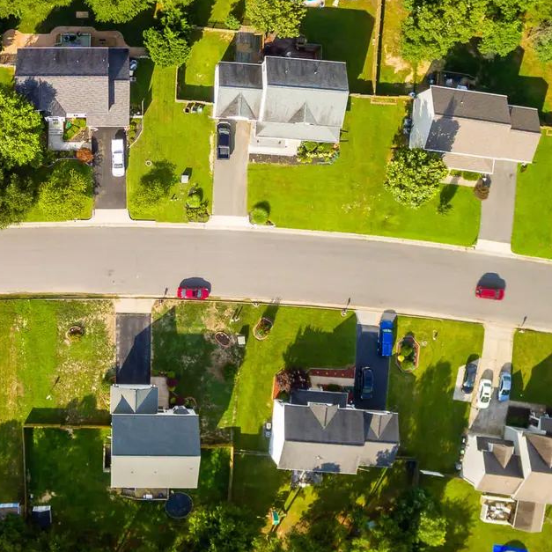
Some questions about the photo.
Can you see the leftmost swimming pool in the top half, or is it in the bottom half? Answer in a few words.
bottom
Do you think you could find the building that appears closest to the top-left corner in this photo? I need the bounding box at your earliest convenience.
[14,48,130,135]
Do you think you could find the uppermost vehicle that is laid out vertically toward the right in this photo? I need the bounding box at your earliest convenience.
[379,319,397,357]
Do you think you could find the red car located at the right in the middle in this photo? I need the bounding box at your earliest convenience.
[476,286,508,301]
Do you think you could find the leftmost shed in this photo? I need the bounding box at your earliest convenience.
[0,497,22,519]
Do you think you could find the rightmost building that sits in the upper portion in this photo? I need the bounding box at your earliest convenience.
[410,86,541,175]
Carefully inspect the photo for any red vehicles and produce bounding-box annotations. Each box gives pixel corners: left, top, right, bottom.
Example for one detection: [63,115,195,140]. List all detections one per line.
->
[476,286,508,301]
[179,286,210,300]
